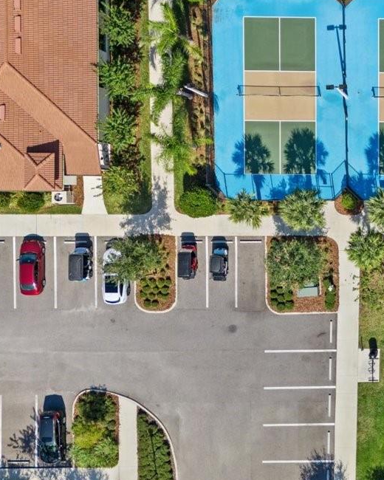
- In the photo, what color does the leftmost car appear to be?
red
